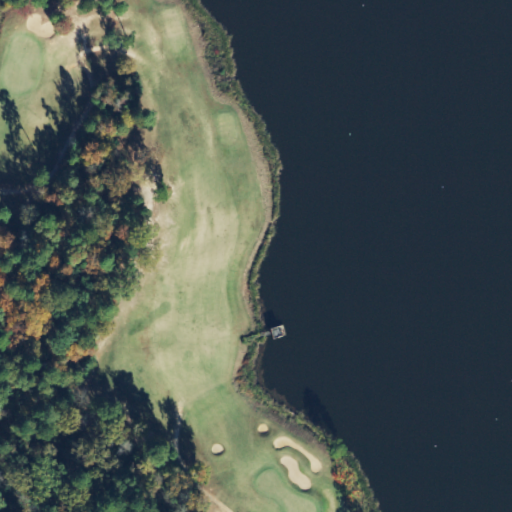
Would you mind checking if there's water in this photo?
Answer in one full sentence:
Yes, water shows up in the scene.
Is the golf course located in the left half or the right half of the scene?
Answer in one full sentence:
It is on the left.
